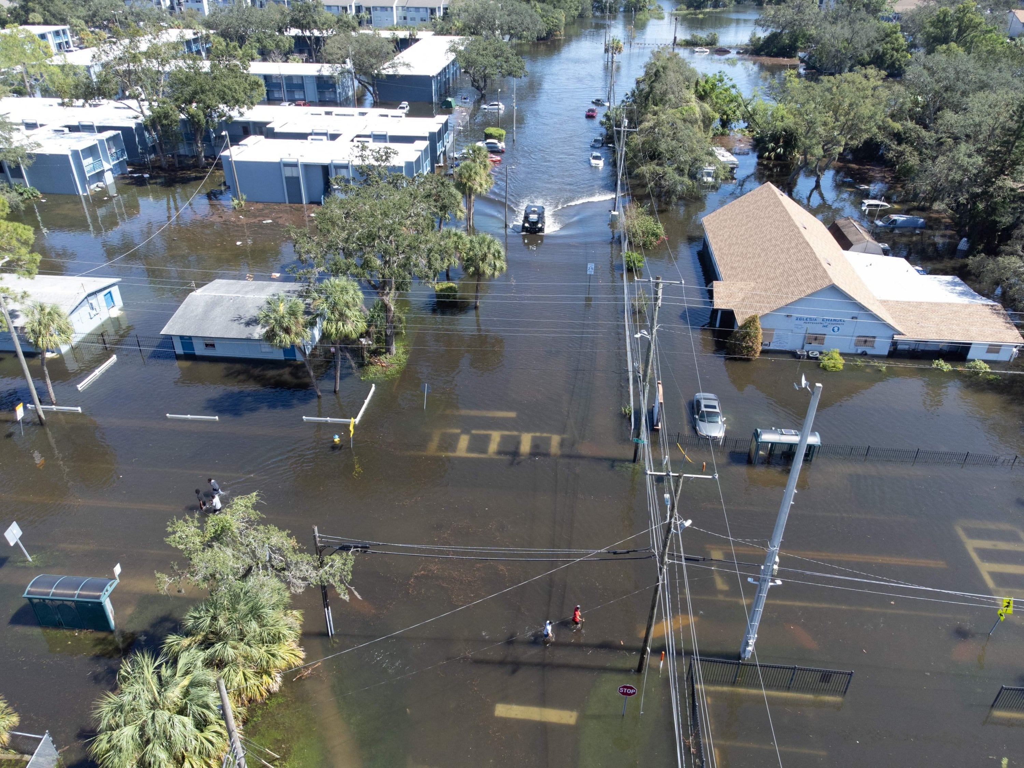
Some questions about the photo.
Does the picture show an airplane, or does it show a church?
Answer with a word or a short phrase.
church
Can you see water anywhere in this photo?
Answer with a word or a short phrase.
Yes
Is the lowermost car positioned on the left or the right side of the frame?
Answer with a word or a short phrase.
right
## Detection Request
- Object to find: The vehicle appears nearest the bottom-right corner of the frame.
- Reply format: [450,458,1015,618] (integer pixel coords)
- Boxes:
[692,395,728,442]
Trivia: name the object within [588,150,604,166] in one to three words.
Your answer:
car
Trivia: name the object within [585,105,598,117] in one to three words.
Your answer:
vehicle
